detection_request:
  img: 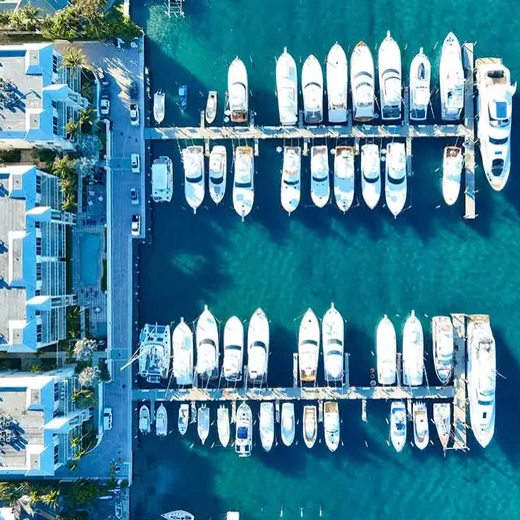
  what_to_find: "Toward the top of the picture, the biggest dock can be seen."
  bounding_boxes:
[145,43,478,218]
